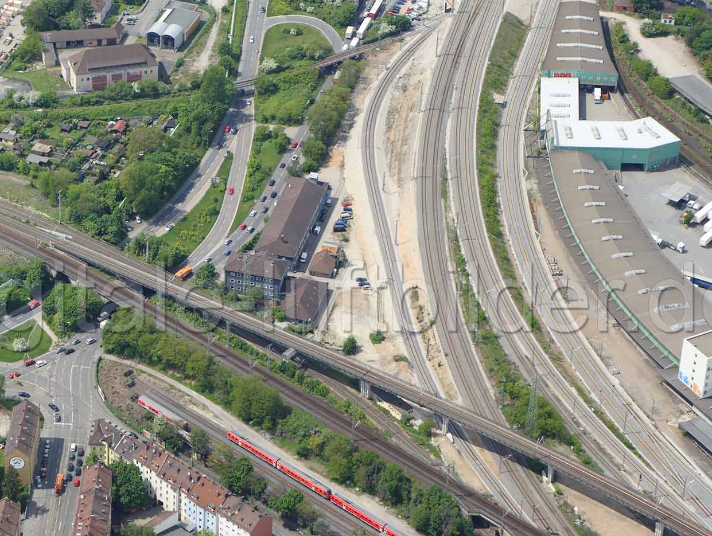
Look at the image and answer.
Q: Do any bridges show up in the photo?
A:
Yes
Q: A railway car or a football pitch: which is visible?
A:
railway car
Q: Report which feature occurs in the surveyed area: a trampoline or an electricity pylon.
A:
electricity pylon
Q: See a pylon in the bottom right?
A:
Yes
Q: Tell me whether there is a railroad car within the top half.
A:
No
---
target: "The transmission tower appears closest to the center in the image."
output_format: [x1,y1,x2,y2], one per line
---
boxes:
[374,279,390,336]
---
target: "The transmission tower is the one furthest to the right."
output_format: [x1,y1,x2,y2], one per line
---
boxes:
[521,361,555,434]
